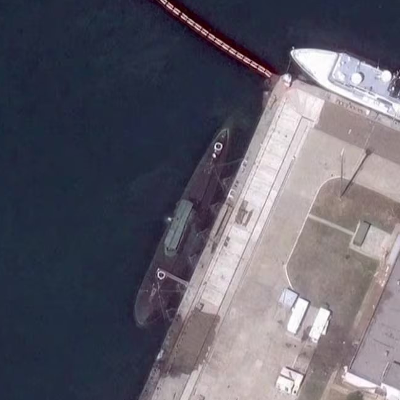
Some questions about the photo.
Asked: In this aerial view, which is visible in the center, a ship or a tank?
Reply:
ship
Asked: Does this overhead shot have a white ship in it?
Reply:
Yes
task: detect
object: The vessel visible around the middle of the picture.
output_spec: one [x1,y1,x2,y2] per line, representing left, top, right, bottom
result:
[134,130,227,328]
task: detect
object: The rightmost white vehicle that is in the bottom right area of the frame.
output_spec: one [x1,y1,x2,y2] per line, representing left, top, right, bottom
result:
[308,310,328,346]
